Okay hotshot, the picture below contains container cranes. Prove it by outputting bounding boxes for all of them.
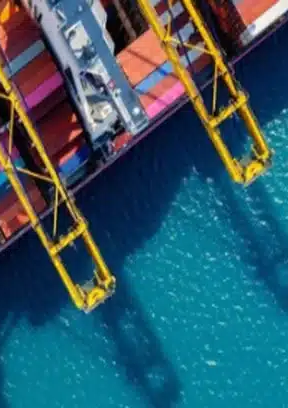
[145,0,284,192]
[0,33,124,317]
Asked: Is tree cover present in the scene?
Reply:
No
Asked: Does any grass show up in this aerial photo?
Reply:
No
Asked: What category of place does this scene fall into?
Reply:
port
